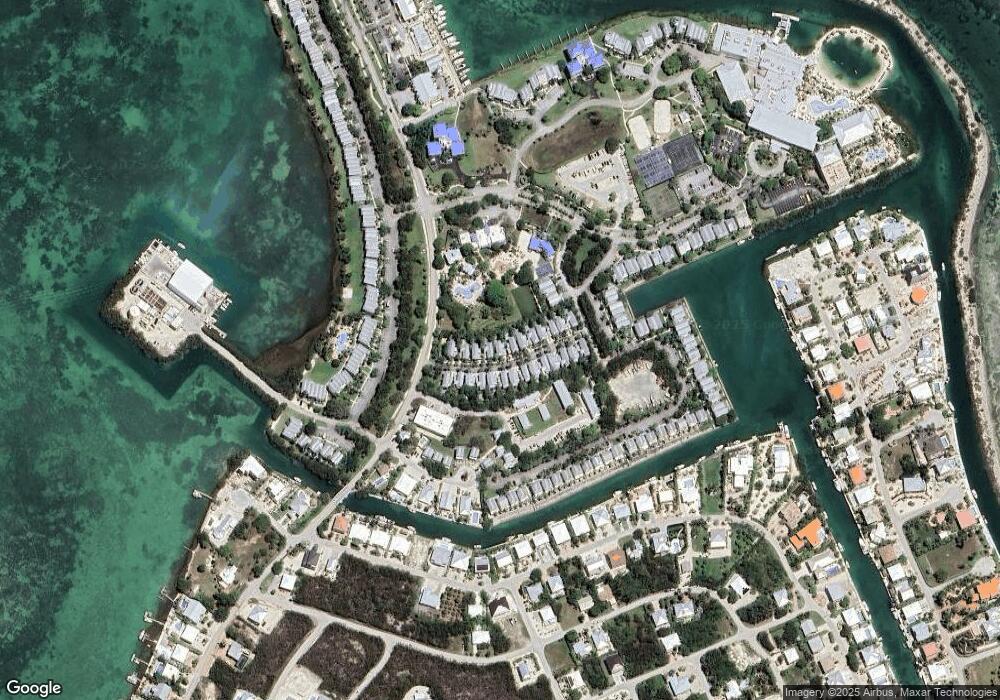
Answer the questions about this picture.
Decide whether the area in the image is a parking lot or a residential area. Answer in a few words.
residential area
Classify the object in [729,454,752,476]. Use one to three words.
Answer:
house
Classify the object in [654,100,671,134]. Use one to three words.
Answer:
sports court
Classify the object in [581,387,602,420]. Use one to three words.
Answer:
building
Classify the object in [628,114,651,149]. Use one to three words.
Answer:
sports court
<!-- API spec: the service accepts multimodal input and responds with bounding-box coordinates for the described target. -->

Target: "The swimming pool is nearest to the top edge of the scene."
[810,96,851,115]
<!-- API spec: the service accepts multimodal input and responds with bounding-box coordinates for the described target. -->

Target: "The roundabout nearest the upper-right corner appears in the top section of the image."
[750,142,785,177]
